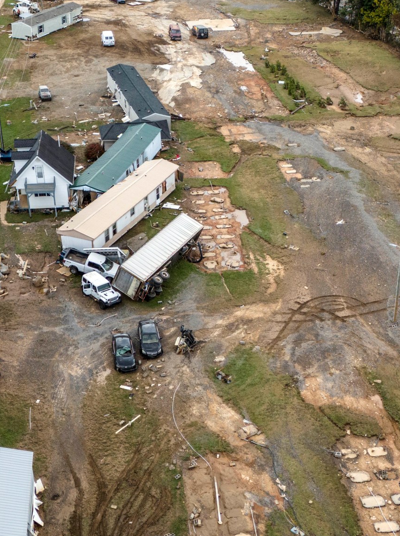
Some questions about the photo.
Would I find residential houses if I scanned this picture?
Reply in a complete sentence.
Yes, the frame does contain a residential house.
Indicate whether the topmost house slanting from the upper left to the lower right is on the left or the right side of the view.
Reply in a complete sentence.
The topmost house slanting from the upper left to the lower right is on the left side of the image.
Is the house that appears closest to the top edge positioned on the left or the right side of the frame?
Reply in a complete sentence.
The house that appears closest to the top edge is on the left side of the image.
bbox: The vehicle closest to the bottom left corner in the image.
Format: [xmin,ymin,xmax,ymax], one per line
[111,337,138,373]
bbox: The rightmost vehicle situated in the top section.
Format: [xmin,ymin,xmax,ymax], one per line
[193,27,208,40]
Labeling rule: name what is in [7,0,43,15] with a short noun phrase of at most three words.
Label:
vehicle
